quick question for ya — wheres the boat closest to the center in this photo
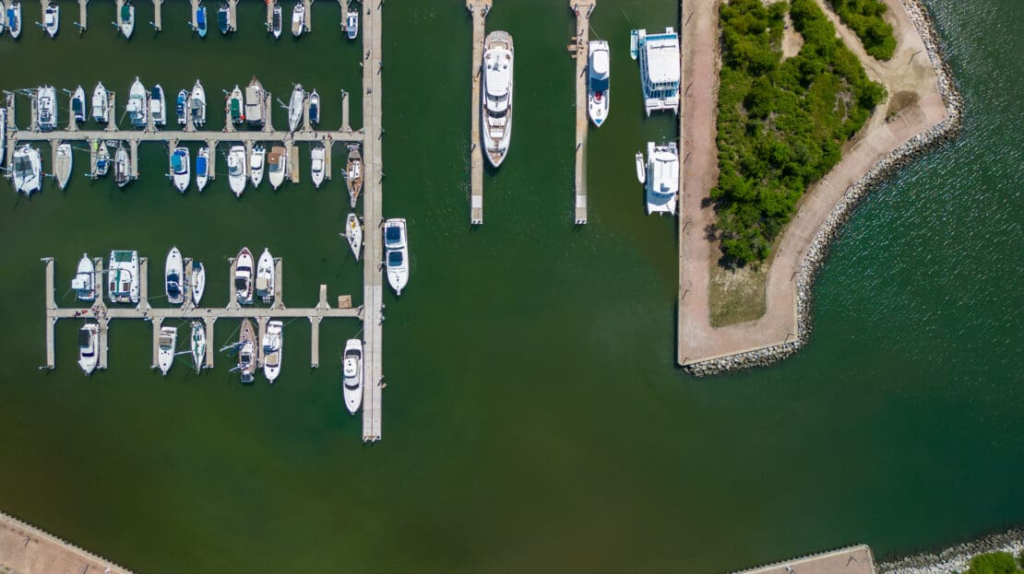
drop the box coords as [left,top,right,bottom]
[381,219,408,297]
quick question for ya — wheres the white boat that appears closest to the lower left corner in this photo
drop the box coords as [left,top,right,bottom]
[78,315,100,376]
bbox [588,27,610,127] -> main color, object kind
white boat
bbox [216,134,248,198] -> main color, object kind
white boat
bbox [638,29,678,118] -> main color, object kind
white ship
